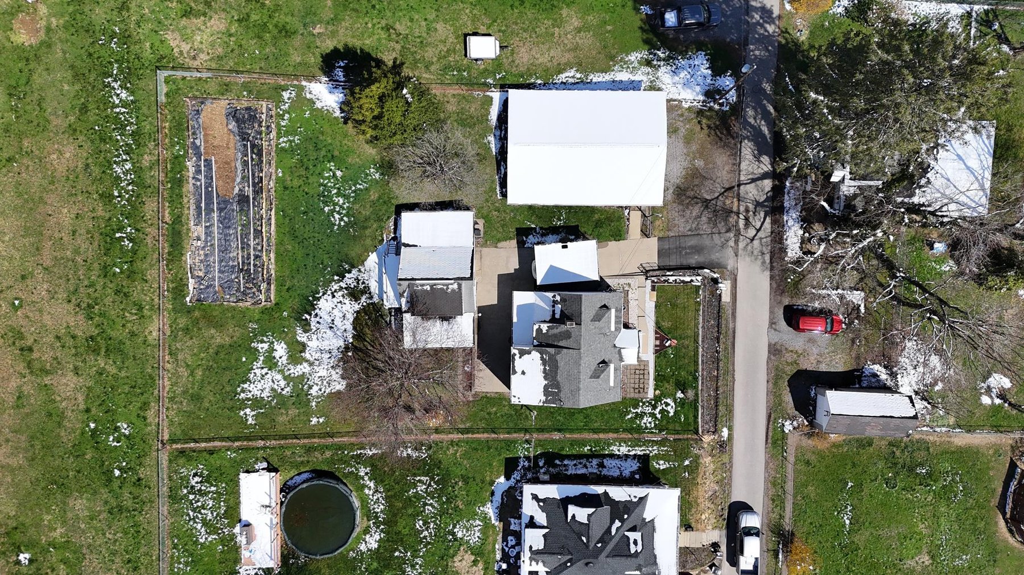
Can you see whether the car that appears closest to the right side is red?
Yes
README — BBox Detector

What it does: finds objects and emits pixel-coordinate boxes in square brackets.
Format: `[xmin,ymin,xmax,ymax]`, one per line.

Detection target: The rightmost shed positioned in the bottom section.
[806,388,918,438]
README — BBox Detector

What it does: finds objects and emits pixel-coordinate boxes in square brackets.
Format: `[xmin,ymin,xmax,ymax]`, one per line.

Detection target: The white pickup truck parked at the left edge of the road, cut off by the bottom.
[732,508,762,575]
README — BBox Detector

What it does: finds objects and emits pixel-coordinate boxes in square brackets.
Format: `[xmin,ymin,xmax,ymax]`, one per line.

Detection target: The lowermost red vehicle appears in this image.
[789,312,843,338]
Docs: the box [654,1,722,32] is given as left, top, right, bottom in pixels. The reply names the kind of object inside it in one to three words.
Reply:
truck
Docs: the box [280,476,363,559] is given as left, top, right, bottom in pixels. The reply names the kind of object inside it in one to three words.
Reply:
swimming pool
